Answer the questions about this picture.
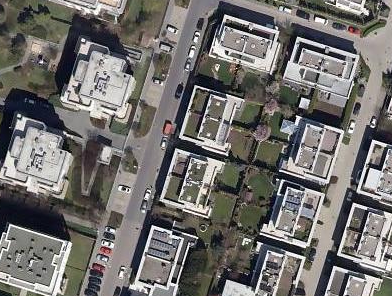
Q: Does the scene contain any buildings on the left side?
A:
Yes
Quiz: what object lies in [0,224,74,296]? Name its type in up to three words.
building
